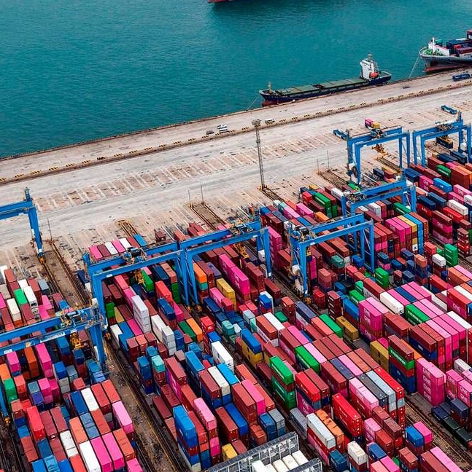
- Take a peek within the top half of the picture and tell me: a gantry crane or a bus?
gantry crane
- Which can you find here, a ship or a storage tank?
ship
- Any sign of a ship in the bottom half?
No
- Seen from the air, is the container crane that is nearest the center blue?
Yes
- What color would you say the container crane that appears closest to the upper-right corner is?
blue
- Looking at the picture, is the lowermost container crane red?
No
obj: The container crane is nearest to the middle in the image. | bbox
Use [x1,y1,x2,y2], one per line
[173,215,279,323]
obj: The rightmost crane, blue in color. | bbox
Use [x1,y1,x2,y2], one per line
[406,114,472,175]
